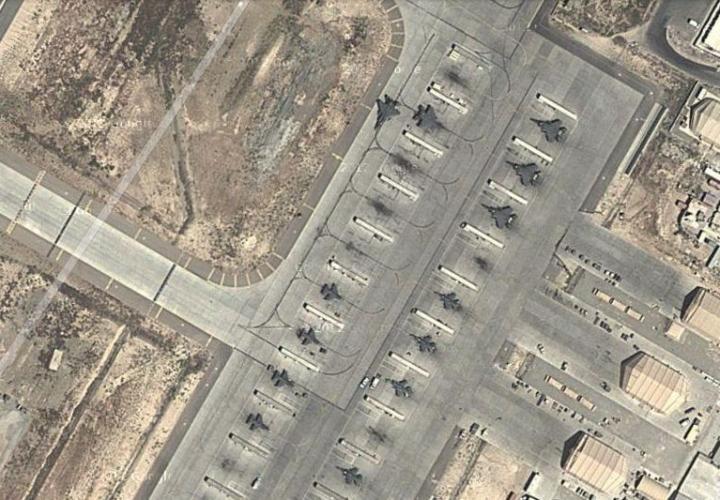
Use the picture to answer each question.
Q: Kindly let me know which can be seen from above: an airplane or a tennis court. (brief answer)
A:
airplane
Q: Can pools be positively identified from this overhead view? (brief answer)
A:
No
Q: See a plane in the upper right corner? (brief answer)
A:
Yes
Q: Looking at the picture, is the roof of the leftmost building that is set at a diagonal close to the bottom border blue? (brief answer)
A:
No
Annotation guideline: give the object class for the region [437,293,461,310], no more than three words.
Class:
airplane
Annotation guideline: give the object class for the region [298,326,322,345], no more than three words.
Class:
airplane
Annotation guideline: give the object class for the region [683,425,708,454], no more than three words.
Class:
building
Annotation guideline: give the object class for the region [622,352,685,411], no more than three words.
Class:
hangar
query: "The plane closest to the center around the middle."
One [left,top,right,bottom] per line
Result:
[320,283,345,300]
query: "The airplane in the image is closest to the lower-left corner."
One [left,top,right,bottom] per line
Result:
[247,413,271,430]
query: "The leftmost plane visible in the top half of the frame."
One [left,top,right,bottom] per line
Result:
[379,98,400,131]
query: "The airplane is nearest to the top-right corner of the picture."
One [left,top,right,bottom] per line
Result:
[534,121,566,143]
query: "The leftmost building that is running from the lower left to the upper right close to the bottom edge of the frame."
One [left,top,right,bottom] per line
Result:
[521,472,549,500]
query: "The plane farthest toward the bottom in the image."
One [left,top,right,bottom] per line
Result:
[338,468,362,486]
